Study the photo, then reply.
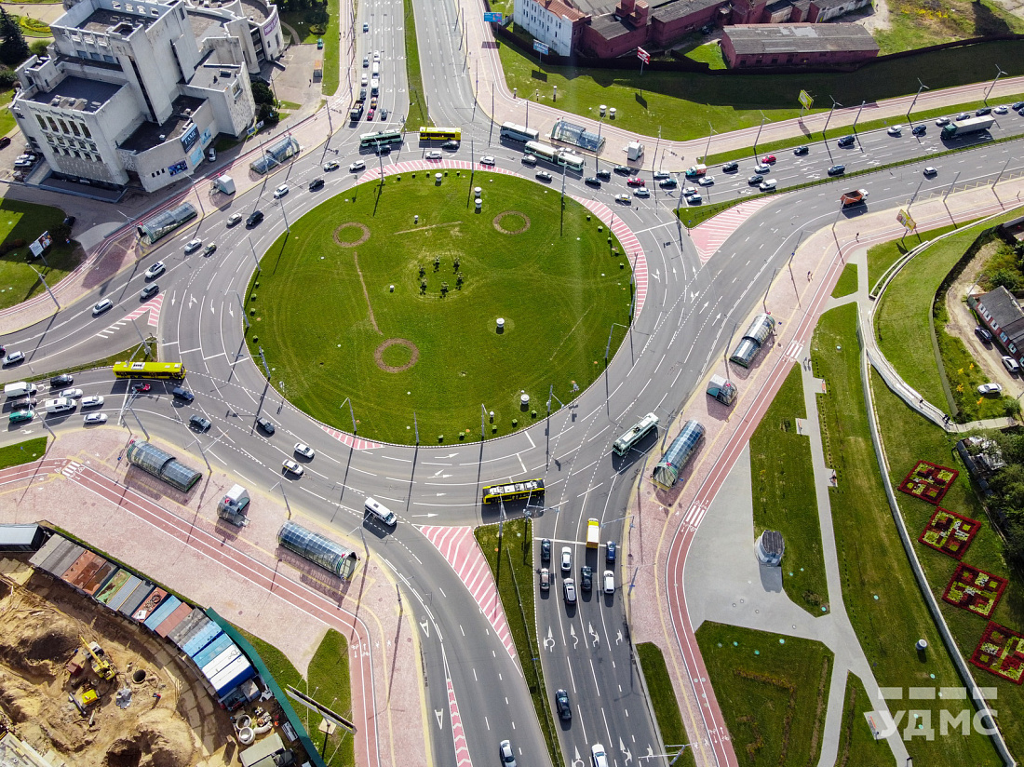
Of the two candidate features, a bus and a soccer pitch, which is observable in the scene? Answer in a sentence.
This aerial view contains a bus.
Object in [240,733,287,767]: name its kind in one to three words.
shipping container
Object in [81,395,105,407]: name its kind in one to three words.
vehicle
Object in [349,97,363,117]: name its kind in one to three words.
vehicle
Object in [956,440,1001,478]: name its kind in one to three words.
shed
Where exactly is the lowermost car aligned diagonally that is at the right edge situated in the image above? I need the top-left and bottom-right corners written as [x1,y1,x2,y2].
[999,356,1021,373]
